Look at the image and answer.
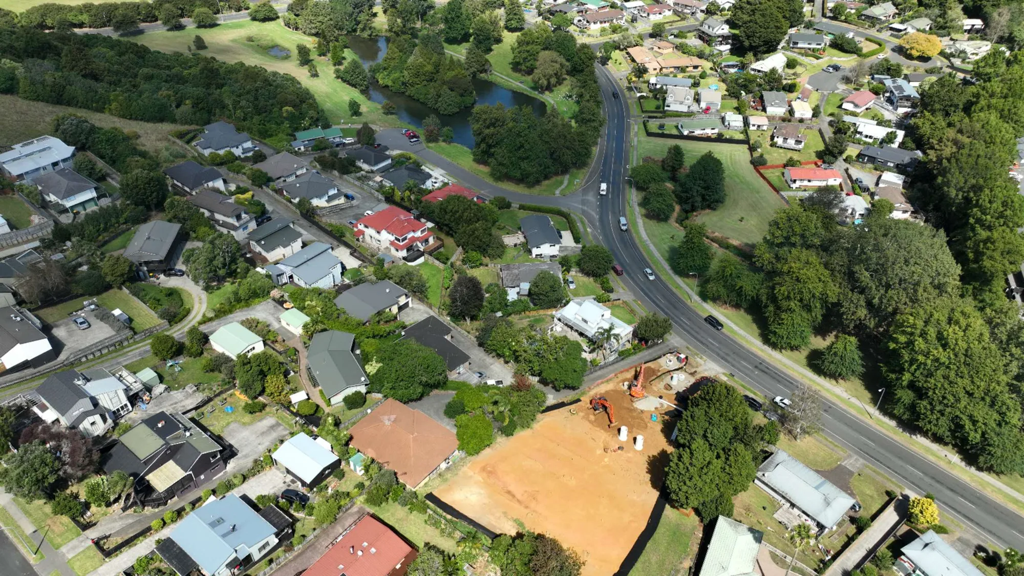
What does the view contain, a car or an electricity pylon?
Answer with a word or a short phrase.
car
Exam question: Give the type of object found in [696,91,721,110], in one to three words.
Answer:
building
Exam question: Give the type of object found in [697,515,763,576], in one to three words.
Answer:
house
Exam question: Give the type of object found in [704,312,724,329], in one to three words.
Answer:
car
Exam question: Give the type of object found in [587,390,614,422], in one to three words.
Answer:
work vehicle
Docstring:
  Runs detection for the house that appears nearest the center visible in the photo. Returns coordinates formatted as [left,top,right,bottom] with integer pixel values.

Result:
[499,263,562,303]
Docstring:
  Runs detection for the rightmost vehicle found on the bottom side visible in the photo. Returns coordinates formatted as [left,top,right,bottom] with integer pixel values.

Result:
[848,496,866,516]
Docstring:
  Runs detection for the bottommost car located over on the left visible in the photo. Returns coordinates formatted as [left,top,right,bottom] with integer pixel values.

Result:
[281,486,306,502]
